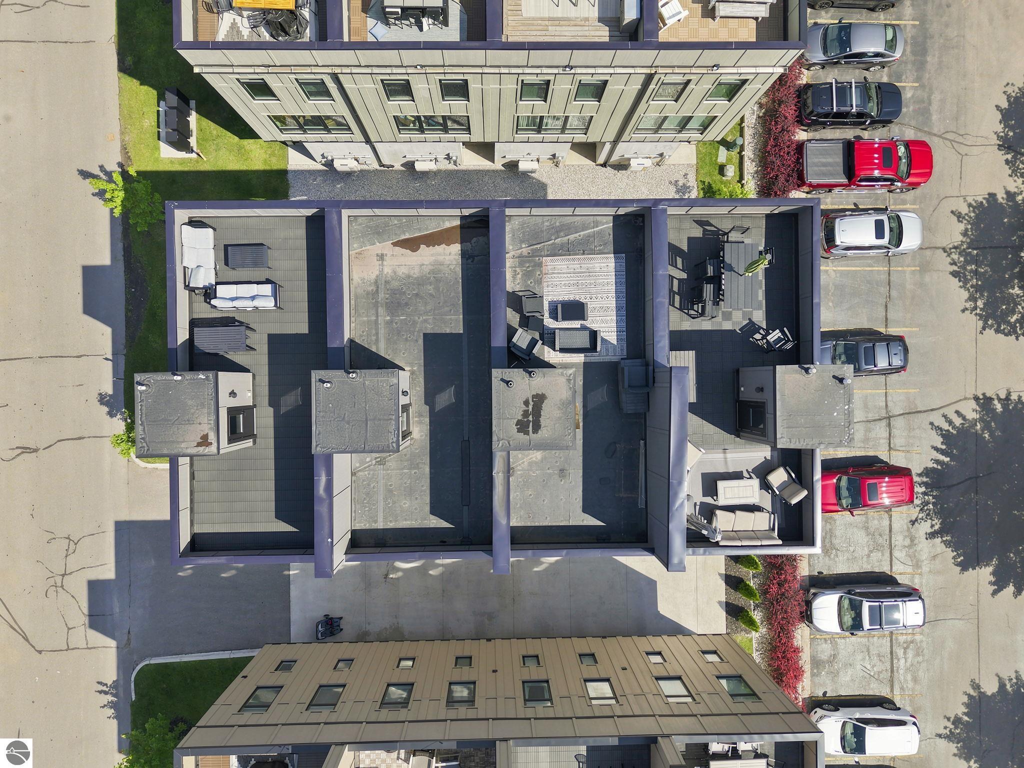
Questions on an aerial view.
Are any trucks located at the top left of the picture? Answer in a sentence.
No, looking at the top left of the picture, there is no truck.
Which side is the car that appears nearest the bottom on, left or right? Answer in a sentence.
The car that appears nearest the bottom appears in the right half of the scene.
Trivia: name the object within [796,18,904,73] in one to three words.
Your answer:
car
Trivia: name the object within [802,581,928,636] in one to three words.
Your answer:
car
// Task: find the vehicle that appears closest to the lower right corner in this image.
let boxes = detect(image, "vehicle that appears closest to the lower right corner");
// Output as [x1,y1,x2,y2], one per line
[806,697,919,757]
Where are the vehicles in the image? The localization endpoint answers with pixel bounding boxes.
[807,0,911,13]
[819,205,922,256]
[806,697,919,757]
[802,581,928,636]
[795,77,902,132]
[821,465,919,515]
[820,329,911,375]
[795,135,932,193]
[796,18,904,73]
